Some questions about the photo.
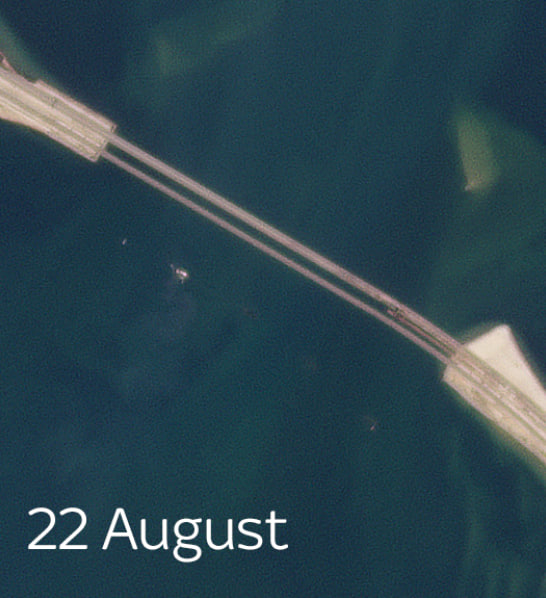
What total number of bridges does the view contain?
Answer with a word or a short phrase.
one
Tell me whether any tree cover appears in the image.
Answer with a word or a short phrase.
No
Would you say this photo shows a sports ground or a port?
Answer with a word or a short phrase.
port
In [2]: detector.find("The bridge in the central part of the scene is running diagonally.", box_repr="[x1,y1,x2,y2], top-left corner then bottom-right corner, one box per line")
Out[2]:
[108,133,462,352]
